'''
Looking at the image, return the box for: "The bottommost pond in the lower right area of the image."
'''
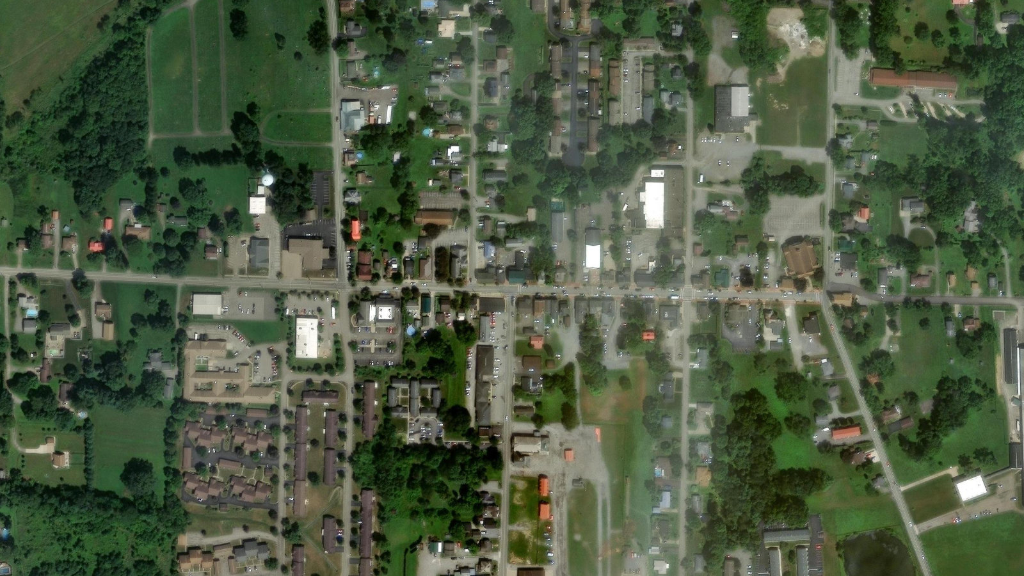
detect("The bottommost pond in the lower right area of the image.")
[839,529,919,576]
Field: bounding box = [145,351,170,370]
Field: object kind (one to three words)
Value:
house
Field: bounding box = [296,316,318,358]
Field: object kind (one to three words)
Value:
building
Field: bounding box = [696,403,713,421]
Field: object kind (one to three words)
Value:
house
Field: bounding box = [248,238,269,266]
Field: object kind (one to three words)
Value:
building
